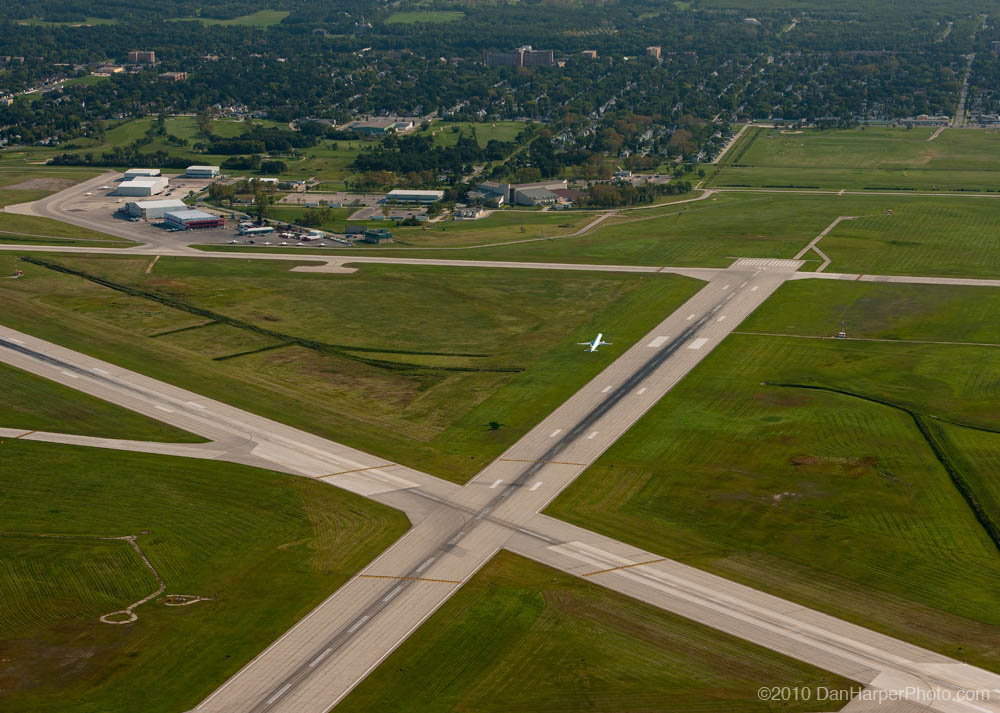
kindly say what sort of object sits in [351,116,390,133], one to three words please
building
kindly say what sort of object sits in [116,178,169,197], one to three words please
hangar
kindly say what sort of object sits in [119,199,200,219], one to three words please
hangar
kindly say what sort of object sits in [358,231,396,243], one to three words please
building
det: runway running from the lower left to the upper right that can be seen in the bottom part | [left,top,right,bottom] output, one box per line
[187,257,809,713]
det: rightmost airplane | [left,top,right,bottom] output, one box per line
[576,333,611,350]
